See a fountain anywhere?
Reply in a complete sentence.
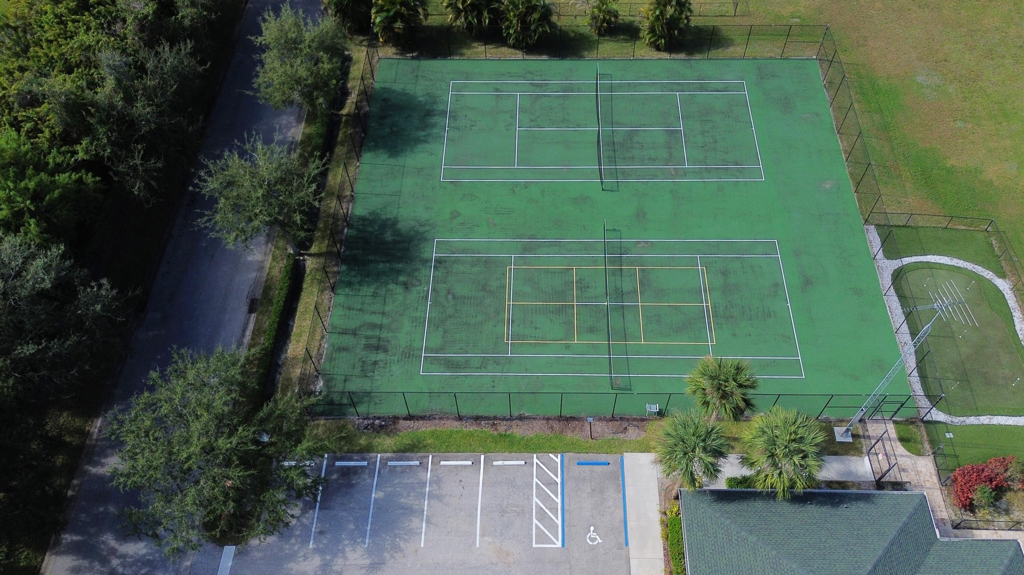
No, I can see no fountain in this picture.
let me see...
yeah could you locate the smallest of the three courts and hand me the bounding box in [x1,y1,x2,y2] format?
[504,266,717,344]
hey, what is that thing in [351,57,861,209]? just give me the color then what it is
green tennis court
